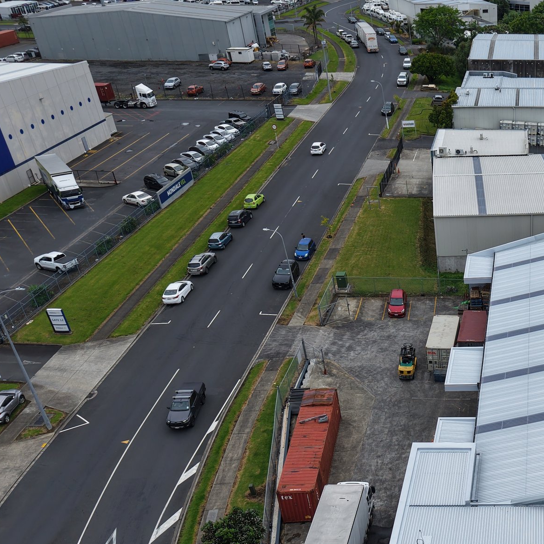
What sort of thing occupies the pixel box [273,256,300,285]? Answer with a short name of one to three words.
car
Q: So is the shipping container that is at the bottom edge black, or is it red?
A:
red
